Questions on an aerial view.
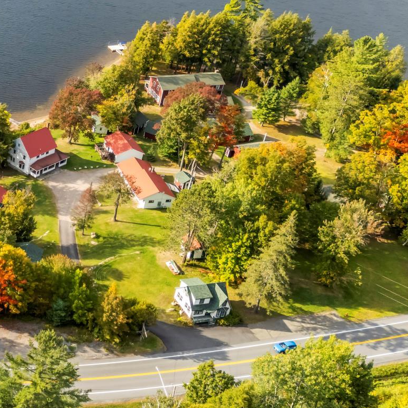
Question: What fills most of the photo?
trees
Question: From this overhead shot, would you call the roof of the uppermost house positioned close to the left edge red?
Yes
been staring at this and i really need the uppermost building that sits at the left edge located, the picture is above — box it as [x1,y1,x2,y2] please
[9,122,68,179]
